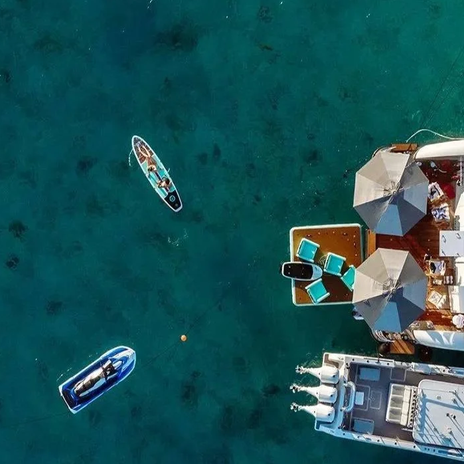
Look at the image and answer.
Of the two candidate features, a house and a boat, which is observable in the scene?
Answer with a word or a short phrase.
boat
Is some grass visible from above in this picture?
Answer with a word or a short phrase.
No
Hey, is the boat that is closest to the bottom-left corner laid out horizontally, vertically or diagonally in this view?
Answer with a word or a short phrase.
diagonally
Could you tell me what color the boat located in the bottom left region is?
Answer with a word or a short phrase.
blue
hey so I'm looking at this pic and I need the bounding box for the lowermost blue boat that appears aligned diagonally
[58,350,136,412]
